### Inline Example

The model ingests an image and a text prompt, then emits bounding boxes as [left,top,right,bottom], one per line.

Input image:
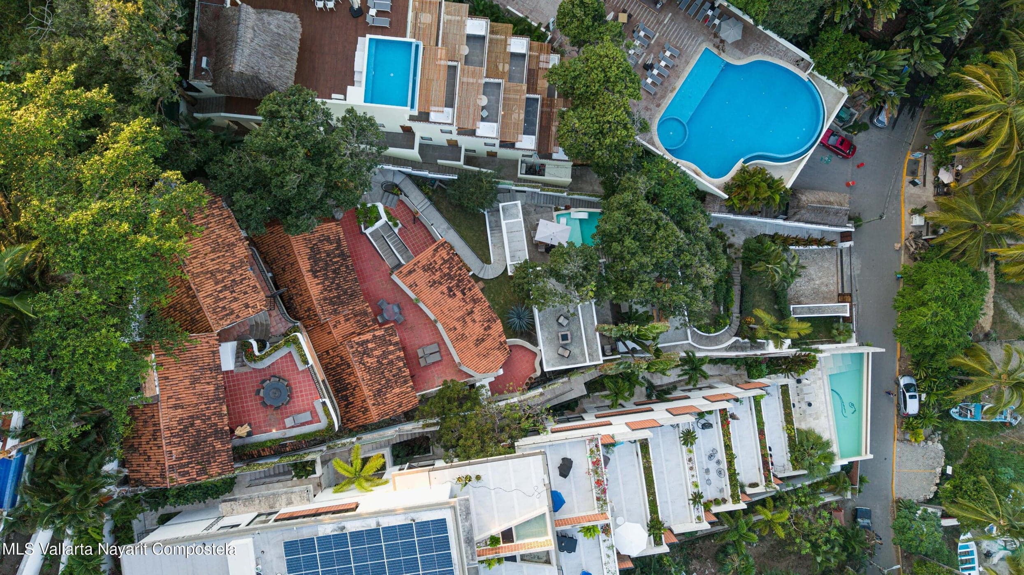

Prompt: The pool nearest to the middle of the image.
[552,208,609,260]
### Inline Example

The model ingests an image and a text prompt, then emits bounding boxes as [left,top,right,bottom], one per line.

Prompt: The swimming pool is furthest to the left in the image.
[363,34,424,128]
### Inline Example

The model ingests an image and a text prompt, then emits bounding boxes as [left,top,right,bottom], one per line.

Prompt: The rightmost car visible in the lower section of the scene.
[900,377,924,419]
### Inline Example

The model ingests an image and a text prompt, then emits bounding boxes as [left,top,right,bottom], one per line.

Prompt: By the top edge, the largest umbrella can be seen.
[718,17,745,44]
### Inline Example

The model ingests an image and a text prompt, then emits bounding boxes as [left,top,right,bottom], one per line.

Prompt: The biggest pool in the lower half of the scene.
[803,342,885,487]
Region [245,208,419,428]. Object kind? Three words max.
house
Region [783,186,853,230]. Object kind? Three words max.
shed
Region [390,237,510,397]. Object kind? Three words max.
house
